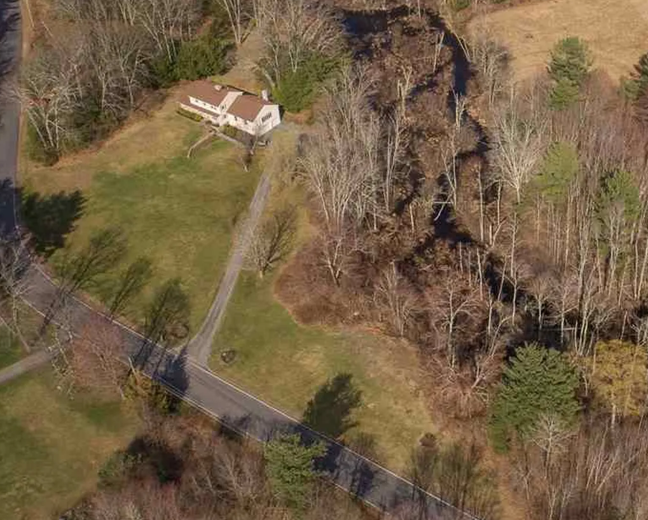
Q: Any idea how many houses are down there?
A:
one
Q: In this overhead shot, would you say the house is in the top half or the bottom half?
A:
top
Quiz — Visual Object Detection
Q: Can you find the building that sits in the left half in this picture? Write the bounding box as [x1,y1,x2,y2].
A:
[177,79,279,134]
